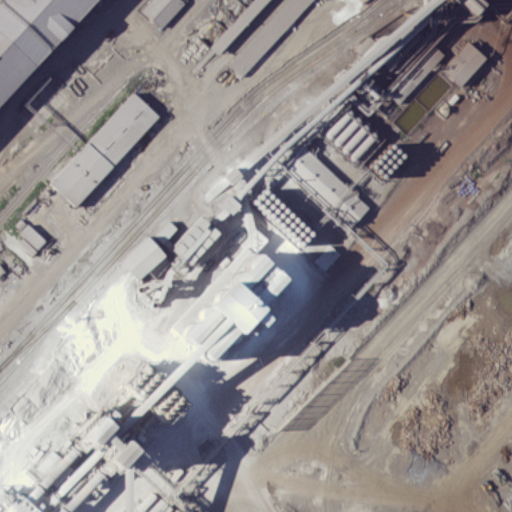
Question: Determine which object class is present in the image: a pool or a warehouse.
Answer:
warehouse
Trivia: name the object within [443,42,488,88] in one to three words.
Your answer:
building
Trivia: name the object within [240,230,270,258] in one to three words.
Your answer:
house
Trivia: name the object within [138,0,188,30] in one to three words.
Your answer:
shed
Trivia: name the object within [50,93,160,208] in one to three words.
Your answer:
warehouse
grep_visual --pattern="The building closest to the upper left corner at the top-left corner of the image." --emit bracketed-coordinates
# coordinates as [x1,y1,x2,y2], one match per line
[0,0,100,108]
